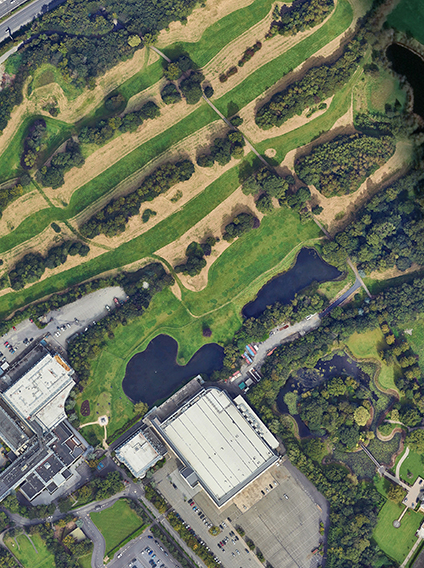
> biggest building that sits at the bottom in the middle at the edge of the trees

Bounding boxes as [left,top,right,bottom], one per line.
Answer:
[143,374,279,510]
